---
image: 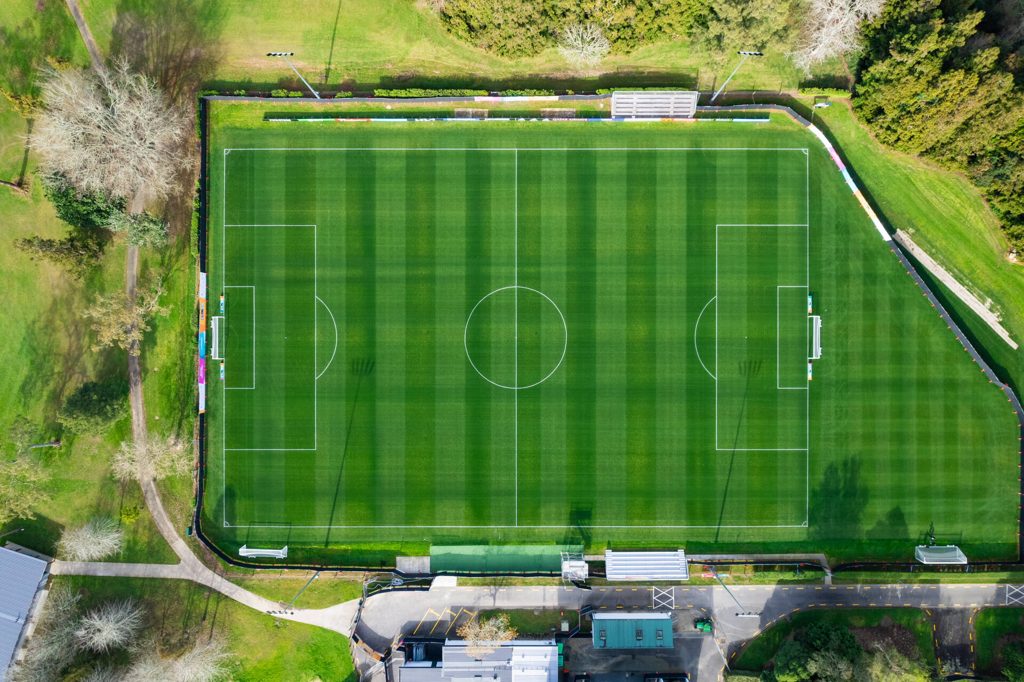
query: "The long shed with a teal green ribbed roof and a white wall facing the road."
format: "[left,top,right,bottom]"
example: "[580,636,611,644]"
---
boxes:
[592,612,677,649]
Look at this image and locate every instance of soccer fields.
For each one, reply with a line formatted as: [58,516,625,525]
[199,98,1020,574]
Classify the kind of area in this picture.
sports ground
